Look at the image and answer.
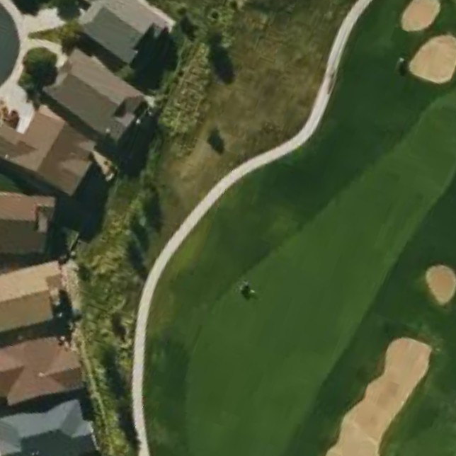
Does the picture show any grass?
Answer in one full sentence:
Yes, the picture does contain grass.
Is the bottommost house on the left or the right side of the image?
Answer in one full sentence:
The bottommost house is on the left side of the image.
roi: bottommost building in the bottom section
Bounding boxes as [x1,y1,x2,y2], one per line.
[0,401,95,456]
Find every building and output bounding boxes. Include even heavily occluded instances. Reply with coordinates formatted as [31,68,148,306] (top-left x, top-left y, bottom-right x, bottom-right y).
[50,53,156,141]
[75,0,176,58]
[0,105,113,189]
[0,193,54,252]
[0,401,95,456]
[0,334,84,406]
[0,260,62,332]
